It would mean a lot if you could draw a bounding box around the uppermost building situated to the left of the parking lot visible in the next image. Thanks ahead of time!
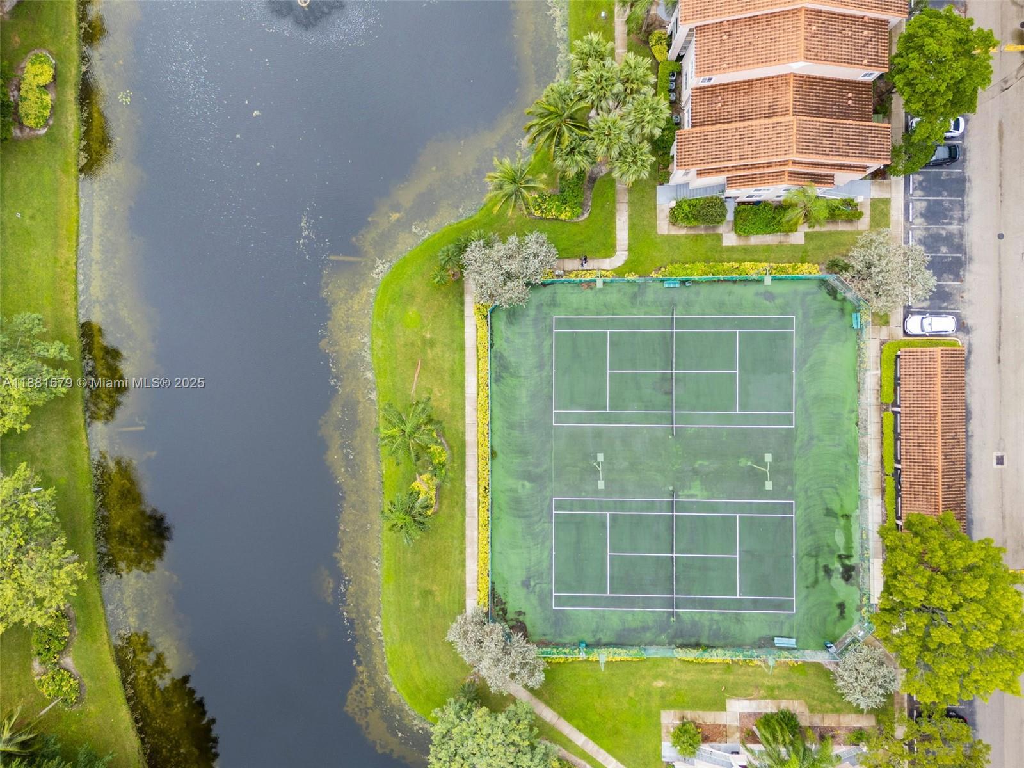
[669,0,909,206]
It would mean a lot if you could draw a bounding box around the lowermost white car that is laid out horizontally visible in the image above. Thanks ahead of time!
[903,312,962,337]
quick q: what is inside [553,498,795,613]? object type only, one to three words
tennis court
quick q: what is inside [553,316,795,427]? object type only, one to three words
tennis court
